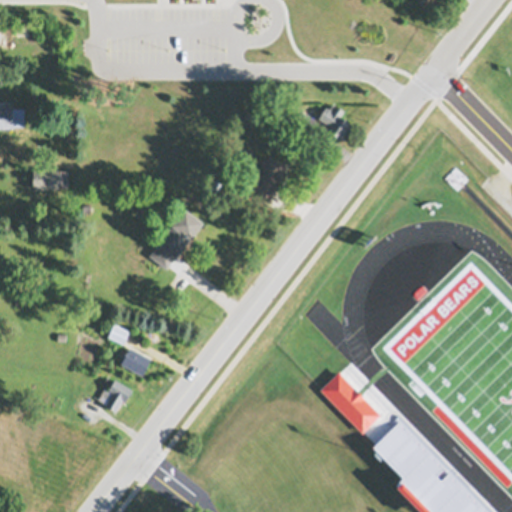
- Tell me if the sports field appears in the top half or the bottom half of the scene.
bottom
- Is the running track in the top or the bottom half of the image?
bottom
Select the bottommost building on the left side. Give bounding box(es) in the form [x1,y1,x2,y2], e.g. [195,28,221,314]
[97,382,133,415]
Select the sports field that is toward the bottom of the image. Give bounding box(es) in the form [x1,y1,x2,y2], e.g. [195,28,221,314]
[372,253,512,494]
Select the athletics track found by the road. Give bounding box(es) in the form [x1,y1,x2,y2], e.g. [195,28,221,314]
[306,220,512,512]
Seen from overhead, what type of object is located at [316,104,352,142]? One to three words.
house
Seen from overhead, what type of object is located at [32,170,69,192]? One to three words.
house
